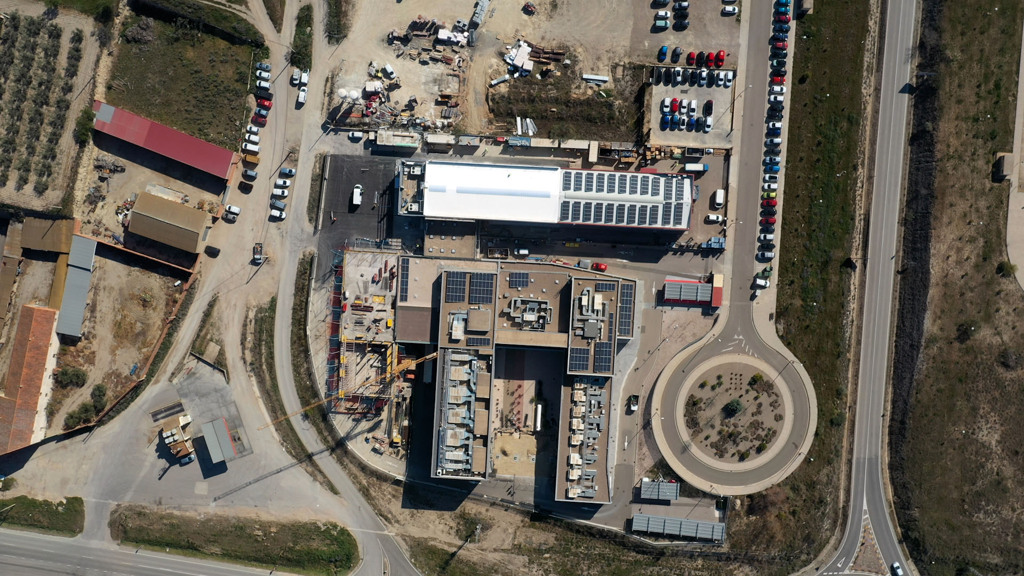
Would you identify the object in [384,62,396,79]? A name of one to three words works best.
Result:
vehicle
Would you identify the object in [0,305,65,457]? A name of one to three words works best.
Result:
building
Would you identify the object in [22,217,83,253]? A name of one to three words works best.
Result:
shed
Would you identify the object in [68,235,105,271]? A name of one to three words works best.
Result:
shed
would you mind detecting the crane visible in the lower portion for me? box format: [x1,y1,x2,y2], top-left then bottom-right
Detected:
[259,350,440,429]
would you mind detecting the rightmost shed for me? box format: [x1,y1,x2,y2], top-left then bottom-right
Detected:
[995,154,1012,178]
